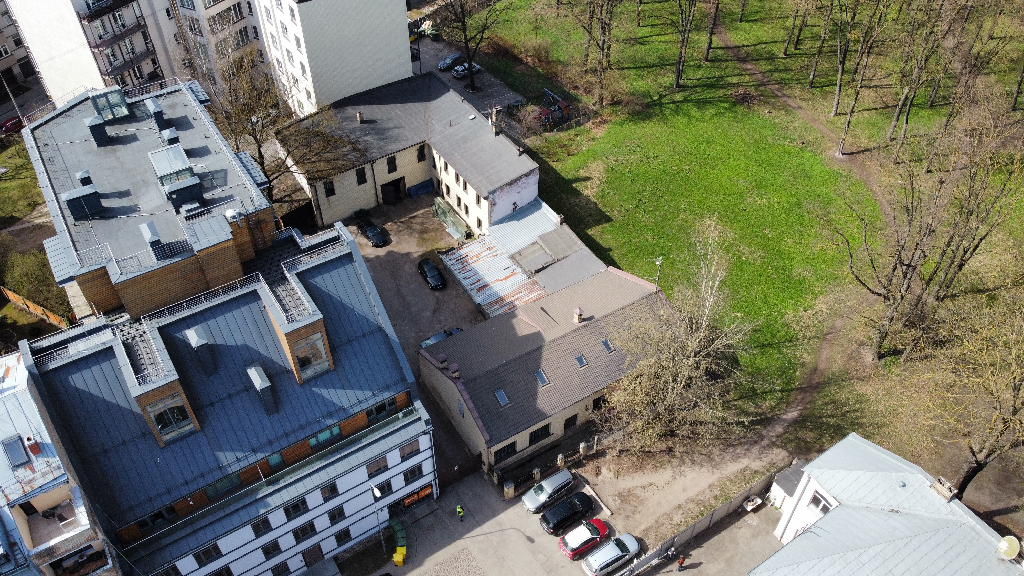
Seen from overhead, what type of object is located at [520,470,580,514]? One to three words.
car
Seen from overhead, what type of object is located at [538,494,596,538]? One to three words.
car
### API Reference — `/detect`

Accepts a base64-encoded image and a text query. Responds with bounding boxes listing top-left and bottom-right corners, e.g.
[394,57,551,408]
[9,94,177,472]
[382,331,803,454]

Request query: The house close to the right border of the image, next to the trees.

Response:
[752,428,1024,576]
